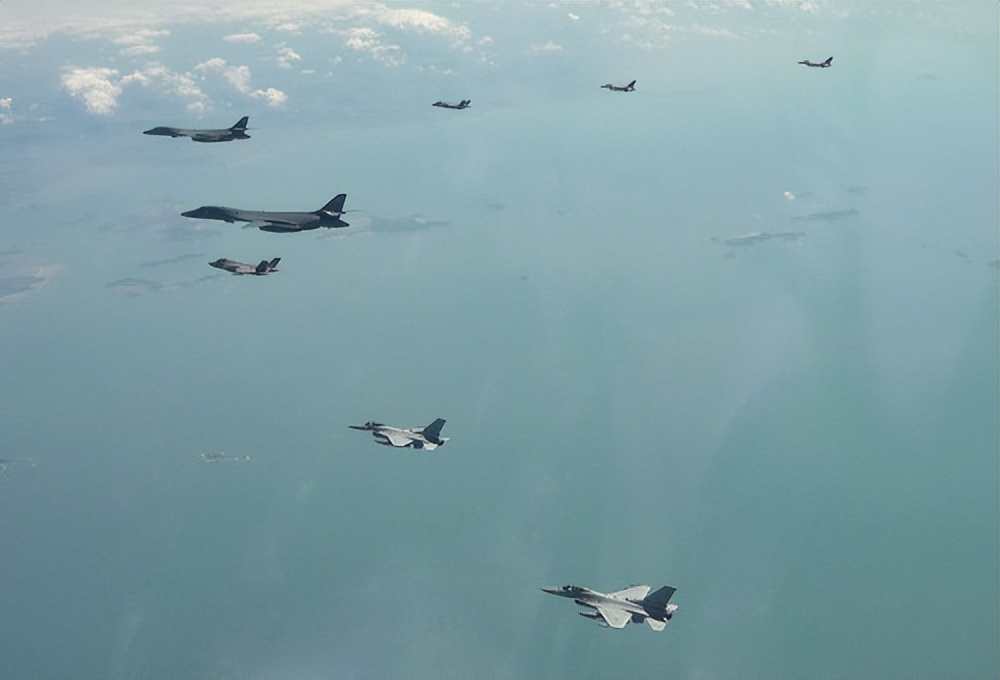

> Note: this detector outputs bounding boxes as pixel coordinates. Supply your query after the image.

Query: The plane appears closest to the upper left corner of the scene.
[143,116,259,142]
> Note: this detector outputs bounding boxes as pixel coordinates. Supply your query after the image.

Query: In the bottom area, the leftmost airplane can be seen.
[345,421,445,451]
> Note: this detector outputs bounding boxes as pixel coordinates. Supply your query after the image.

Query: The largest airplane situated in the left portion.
[182,195,357,232]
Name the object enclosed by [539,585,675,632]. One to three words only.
airplane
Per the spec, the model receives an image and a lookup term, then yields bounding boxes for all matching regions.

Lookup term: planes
[210,257,281,276]
[182,195,357,232]
[432,100,470,109]
[539,585,675,632]
[143,116,259,142]
[601,81,635,92]
[345,421,445,451]
[799,58,832,66]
